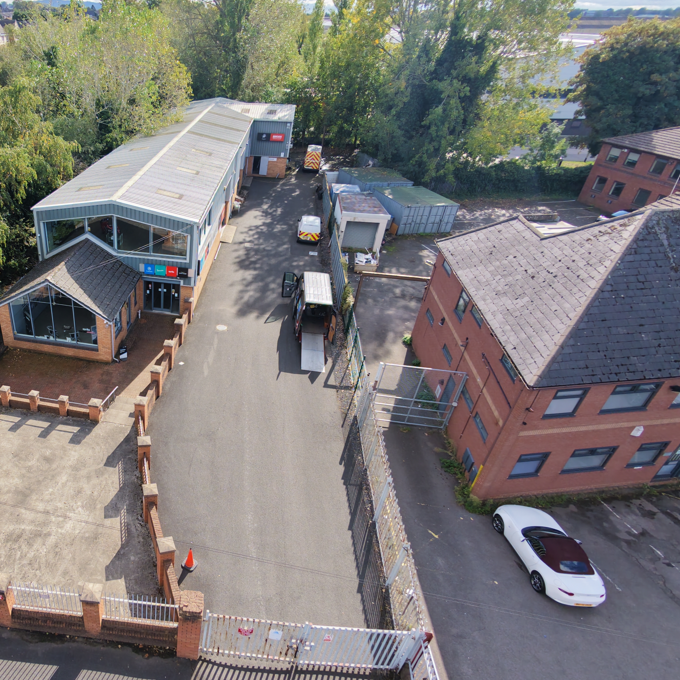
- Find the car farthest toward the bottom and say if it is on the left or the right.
right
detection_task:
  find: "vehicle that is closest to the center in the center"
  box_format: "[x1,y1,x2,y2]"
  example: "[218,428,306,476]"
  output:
[276,278,346,376]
